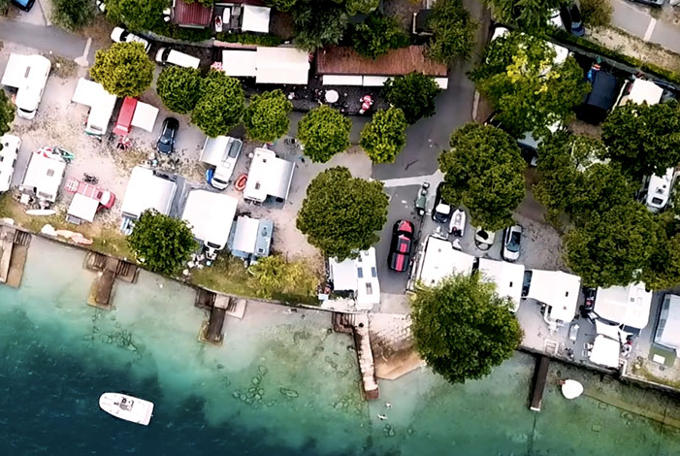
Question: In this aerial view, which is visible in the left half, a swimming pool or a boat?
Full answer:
It is a boat that can be seen in the left half.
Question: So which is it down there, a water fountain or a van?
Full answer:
I can see a van in this picture.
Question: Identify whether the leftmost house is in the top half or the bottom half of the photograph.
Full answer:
Seen from above, the leftmost house lies in the top half of the view.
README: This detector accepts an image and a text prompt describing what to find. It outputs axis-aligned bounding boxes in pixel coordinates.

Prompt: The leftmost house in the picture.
[175,0,215,28]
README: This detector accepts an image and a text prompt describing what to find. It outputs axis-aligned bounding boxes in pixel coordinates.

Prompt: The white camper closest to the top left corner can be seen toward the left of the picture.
[1,53,53,123]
